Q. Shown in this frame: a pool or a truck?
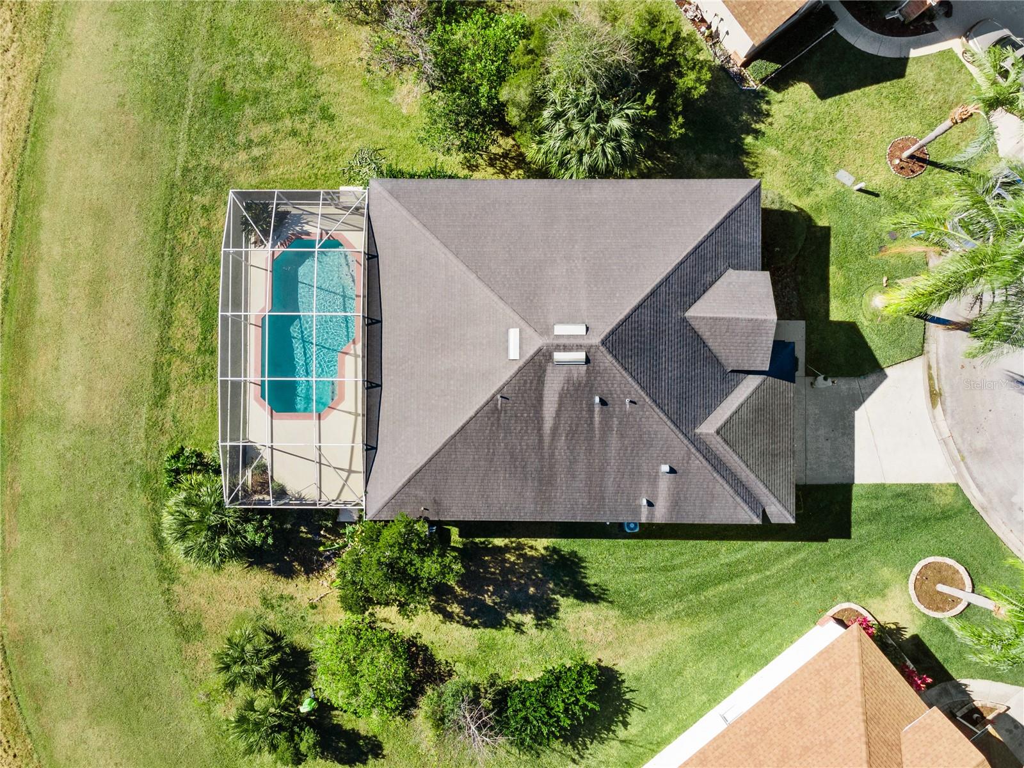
pool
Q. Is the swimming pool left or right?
left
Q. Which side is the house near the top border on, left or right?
right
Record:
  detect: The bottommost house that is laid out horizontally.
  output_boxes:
[647,620,992,768]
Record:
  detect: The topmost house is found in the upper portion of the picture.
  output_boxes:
[692,0,811,66]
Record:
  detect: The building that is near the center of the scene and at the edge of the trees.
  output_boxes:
[365,178,797,524]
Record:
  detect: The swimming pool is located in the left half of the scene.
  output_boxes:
[253,232,362,419]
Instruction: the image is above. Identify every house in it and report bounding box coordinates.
[647,620,992,768]
[365,178,797,524]
[692,0,811,66]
